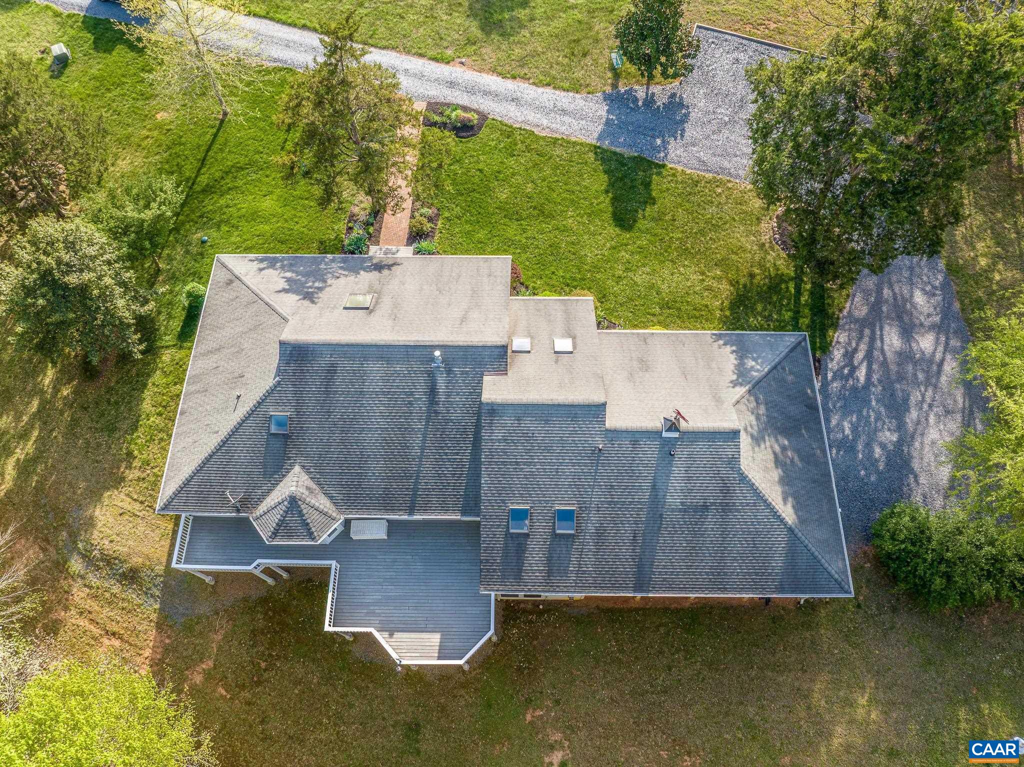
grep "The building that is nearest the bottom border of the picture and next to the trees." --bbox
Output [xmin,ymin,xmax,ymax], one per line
[153,253,859,612]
